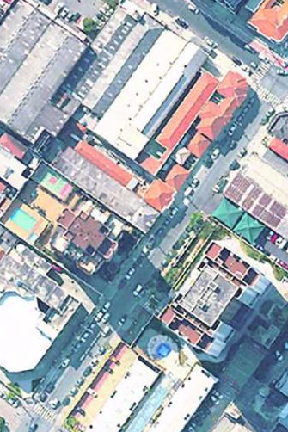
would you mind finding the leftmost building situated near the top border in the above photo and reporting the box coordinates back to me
[0,0,99,136]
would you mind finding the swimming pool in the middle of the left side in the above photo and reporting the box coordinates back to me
[10,206,38,232]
